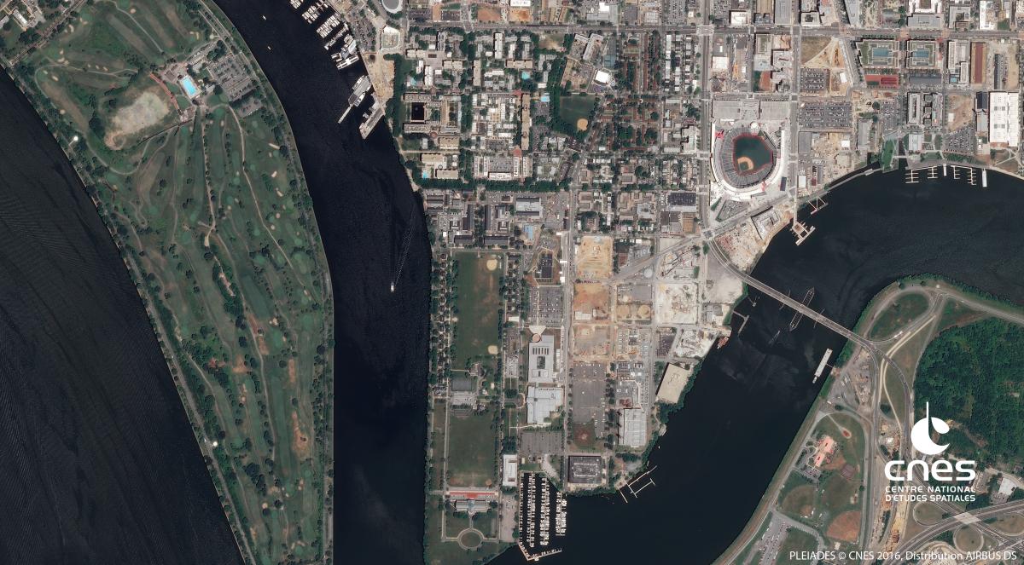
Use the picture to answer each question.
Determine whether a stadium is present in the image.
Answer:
Yes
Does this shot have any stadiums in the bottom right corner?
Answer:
No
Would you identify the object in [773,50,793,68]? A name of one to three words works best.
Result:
building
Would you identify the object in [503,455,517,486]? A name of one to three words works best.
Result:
building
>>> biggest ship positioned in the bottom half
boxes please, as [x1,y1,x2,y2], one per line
[815,349,831,377]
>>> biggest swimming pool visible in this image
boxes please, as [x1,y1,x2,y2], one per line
[181,74,199,96]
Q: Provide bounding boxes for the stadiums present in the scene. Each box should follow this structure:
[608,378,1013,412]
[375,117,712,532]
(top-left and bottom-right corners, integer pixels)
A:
[711,119,785,199]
